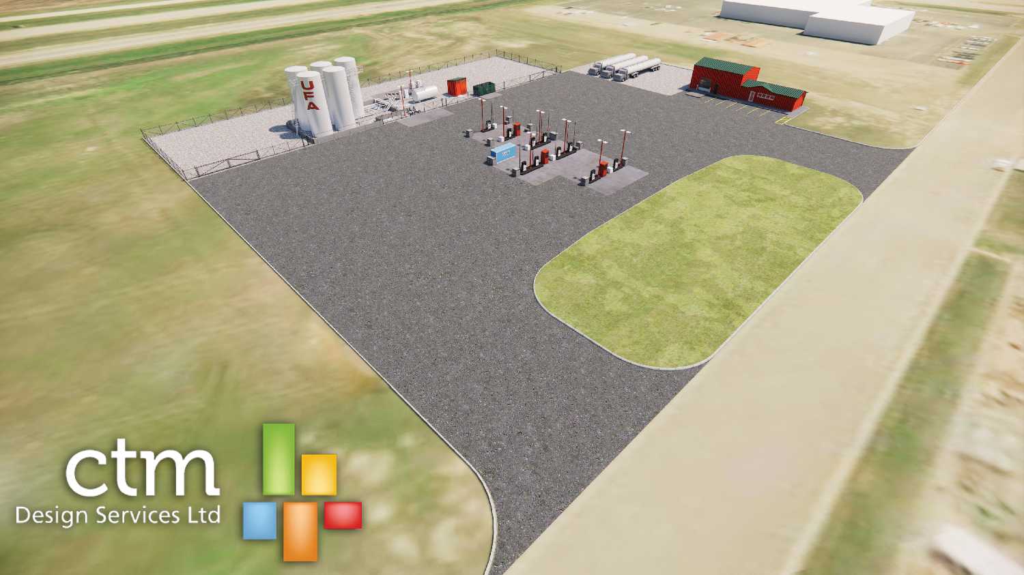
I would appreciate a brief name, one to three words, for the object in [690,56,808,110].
building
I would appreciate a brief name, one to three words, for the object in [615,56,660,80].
truck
